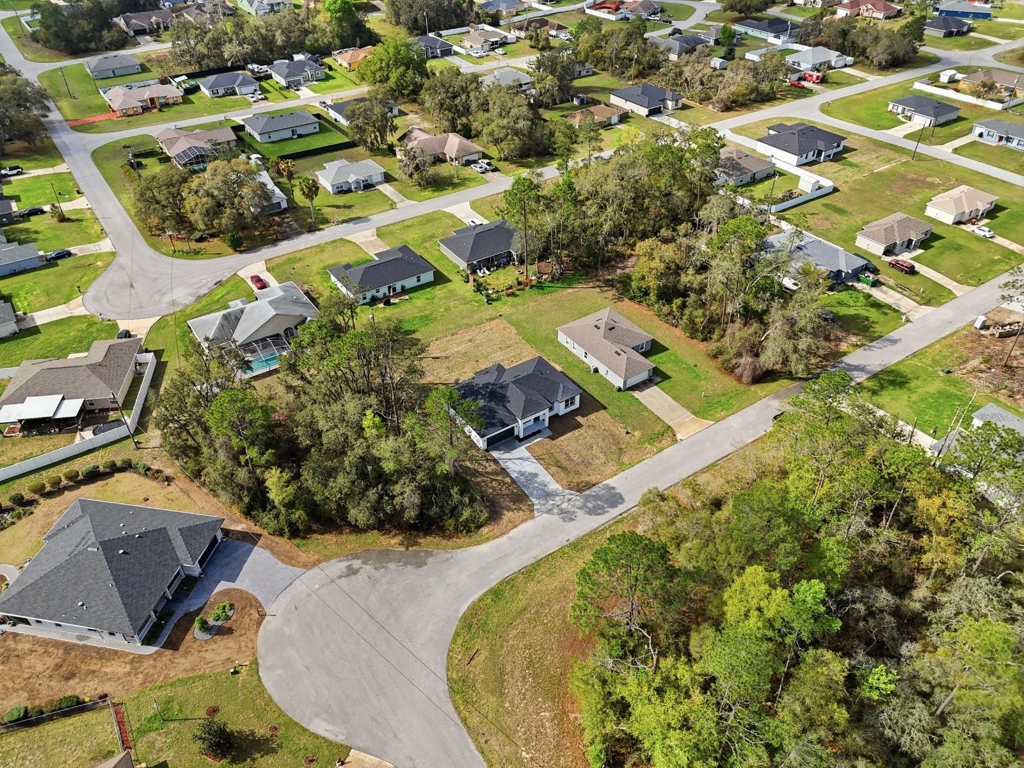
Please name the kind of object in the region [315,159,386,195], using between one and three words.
house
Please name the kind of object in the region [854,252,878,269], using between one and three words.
vehicle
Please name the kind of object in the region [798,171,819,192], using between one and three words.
shed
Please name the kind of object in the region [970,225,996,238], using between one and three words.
vehicle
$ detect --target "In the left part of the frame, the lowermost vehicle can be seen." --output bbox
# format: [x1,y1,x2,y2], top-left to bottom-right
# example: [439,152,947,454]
[116,326,130,339]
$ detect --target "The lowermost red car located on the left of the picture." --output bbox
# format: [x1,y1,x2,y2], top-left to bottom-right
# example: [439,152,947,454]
[248,272,265,286]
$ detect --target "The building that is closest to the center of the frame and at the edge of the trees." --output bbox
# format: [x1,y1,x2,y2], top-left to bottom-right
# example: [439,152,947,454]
[447,356,585,450]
